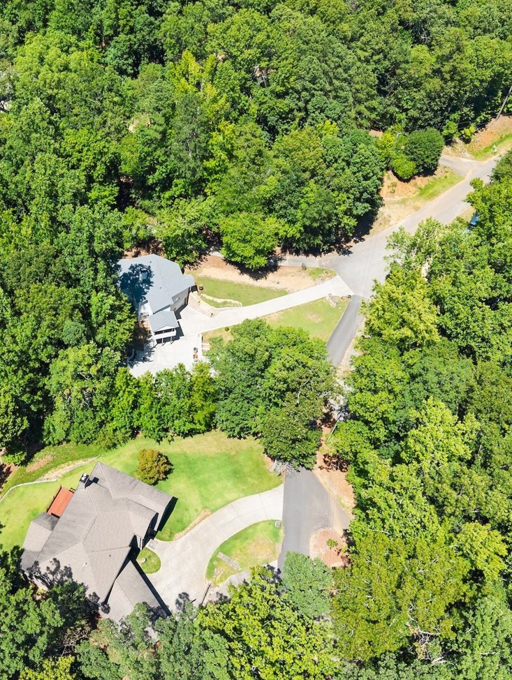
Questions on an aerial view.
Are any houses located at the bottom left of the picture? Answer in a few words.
Yes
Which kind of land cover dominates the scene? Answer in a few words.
trees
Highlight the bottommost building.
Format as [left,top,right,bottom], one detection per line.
[20,462,172,629]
